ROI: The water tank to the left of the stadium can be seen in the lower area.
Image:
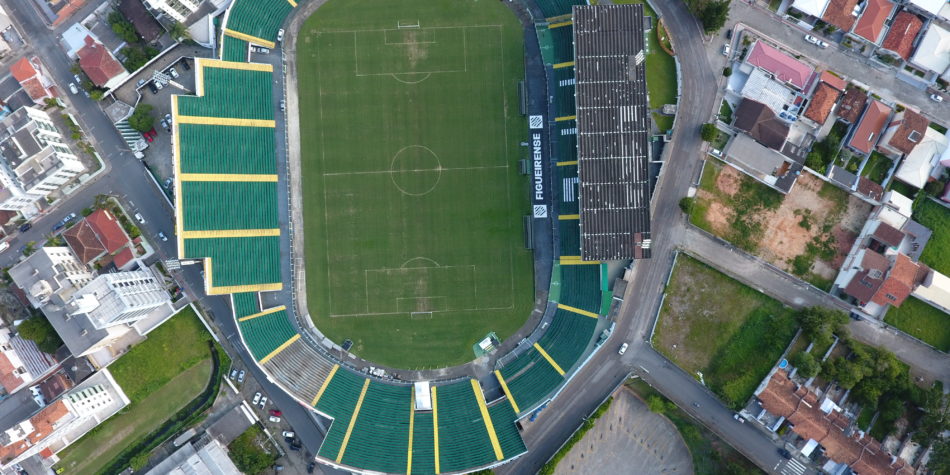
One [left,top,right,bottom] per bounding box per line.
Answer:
[26,277,57,301]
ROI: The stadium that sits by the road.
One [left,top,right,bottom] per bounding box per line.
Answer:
[172,0,652,475]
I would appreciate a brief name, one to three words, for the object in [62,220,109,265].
house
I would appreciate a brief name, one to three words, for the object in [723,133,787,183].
building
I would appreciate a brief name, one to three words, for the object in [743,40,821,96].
house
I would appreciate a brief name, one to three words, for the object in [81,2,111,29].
shed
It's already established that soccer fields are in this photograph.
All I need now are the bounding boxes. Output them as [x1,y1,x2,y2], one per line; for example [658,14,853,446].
[299,0,533,370]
